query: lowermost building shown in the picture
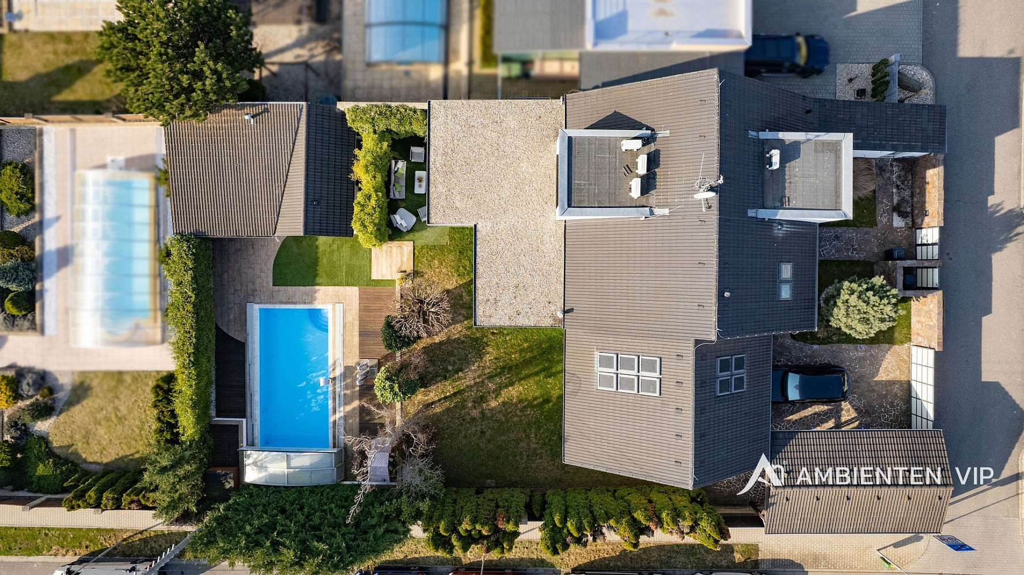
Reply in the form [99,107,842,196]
[751,425,954,534]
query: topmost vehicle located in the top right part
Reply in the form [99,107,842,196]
[744,30,825,79]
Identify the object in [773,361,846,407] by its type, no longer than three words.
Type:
car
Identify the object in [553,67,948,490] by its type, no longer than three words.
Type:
house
